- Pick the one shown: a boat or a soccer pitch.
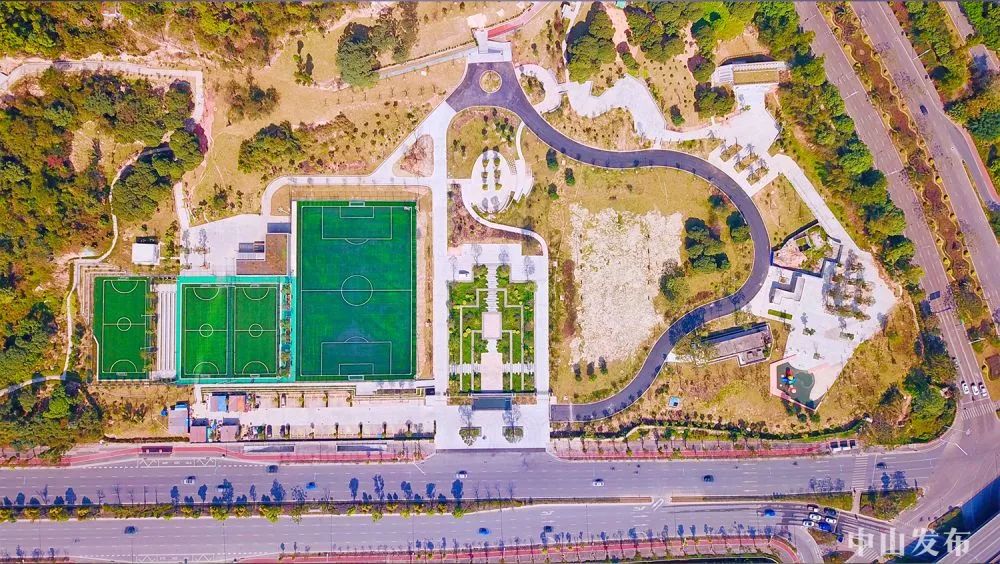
soccer pitch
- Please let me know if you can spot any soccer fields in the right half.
No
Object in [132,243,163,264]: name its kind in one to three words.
shed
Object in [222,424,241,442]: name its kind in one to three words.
shed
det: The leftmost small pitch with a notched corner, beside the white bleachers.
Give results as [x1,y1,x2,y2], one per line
[94,276,149,380]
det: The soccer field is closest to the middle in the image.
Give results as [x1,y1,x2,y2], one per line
[295,202,417,381]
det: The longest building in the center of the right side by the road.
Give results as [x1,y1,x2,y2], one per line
[697,320,771,358]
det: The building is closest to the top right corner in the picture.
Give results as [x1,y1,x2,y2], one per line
[717,62,788,87]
